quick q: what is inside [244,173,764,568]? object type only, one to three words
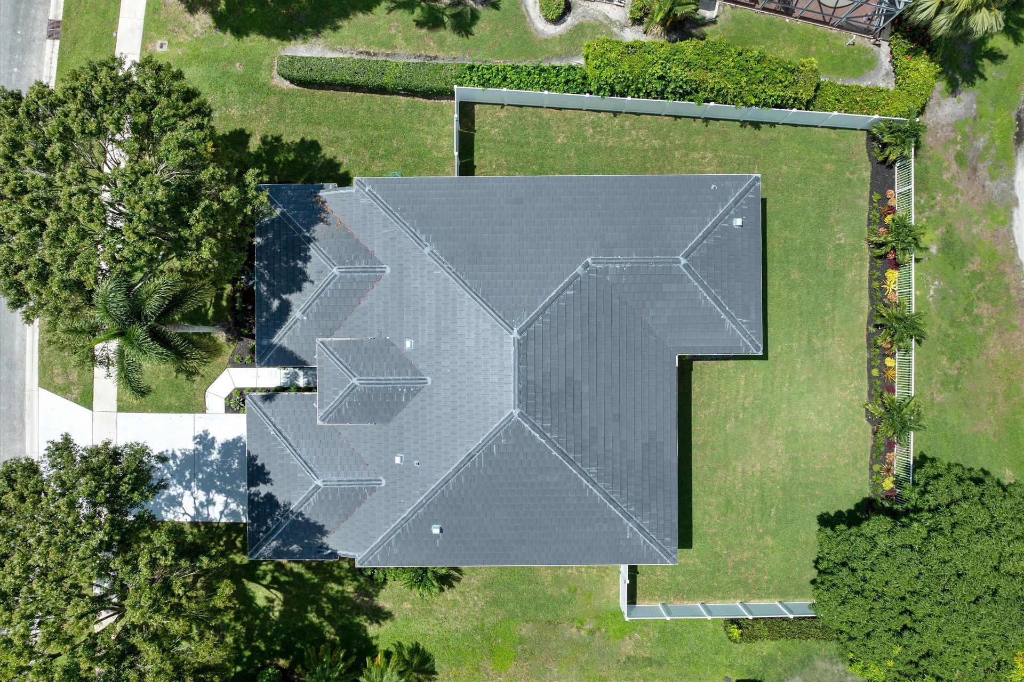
house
